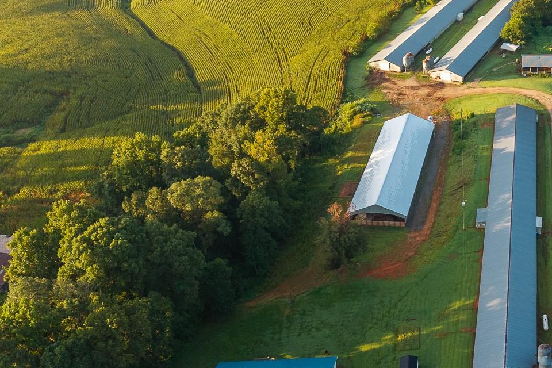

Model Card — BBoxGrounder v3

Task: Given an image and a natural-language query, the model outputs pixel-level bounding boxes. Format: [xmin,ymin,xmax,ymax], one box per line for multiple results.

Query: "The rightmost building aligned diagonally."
[428,0,529,85]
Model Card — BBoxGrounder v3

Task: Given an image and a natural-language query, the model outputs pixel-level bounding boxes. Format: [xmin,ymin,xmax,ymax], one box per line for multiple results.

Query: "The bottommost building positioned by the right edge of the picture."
[471,103,542,368]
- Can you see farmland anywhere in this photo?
Yes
